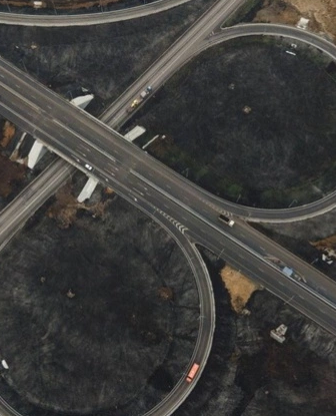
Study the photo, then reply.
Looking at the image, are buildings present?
No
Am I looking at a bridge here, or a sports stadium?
bridge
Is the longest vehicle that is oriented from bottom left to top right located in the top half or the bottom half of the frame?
top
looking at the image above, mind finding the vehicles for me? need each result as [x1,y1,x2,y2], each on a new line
[83,163,92,170]
[132,97,141,106]
[186,363,200,383]
[219,213,235,226]
[126,84,153,112]
[274,260,305,283]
